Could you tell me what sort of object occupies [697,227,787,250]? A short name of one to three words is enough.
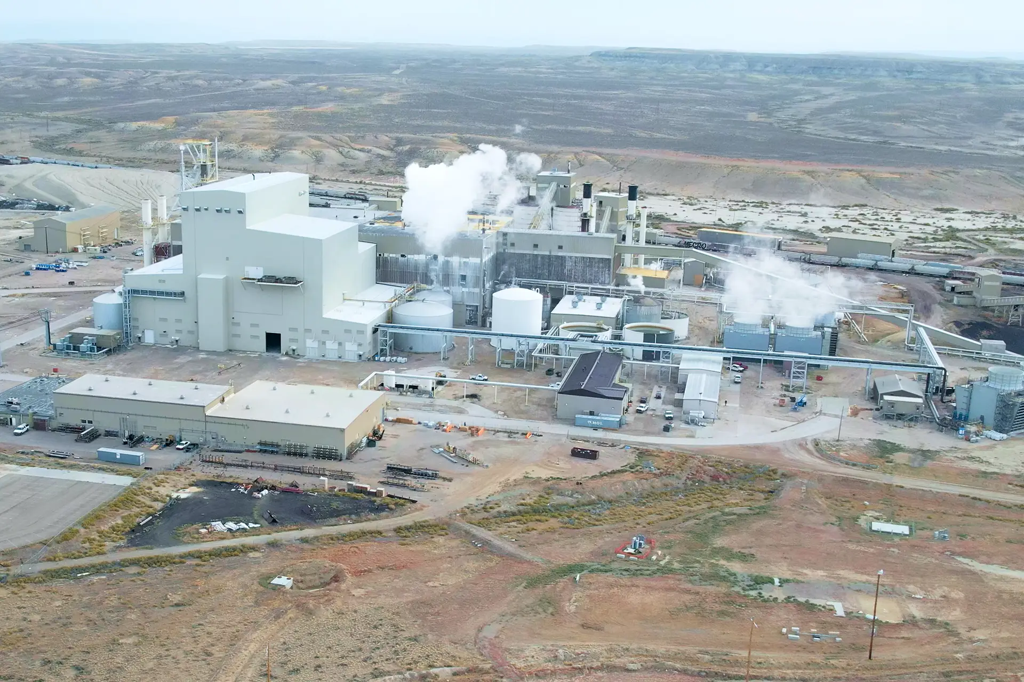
shed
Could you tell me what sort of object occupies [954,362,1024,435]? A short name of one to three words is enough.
cooling tower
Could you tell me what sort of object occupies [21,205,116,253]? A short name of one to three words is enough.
building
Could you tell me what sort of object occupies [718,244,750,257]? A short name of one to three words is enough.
rail car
